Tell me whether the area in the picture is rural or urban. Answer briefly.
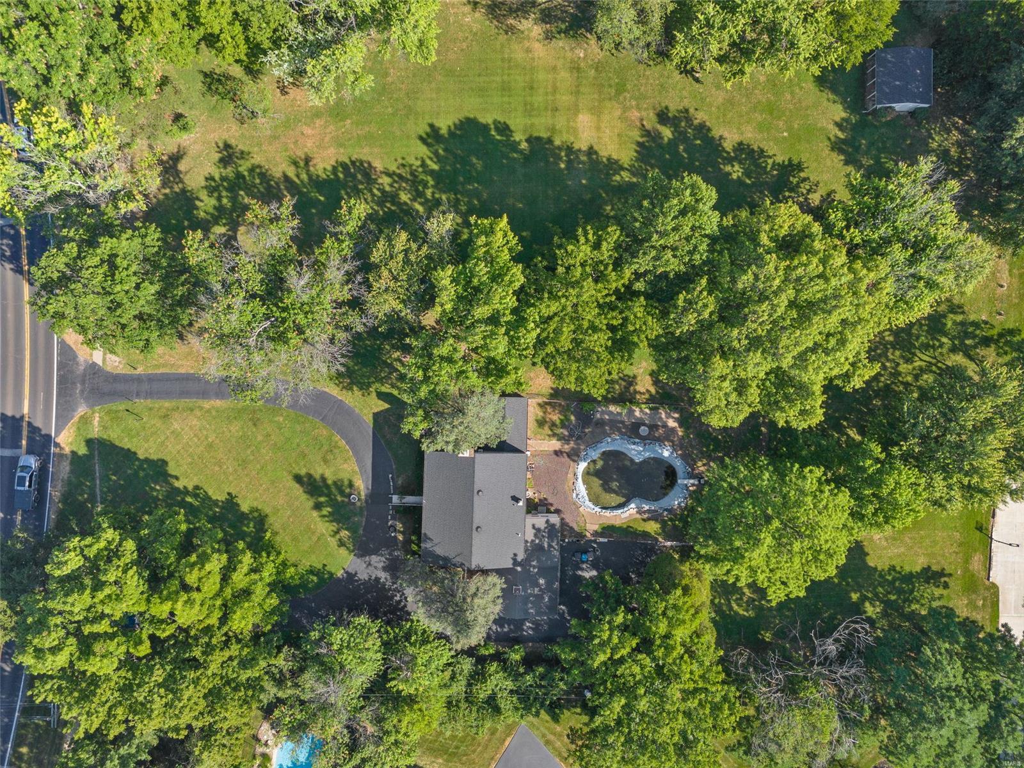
rural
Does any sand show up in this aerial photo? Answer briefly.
No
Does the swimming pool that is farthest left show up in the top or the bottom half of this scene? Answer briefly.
bottom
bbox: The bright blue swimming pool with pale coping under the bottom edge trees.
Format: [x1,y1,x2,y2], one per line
[271,729,329,768]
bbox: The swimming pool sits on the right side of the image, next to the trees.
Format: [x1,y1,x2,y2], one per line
[573,434,691,516]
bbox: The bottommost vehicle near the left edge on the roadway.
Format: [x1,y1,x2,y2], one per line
[13,456,42,511]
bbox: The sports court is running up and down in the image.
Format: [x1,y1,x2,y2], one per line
[992,494,1024,667]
